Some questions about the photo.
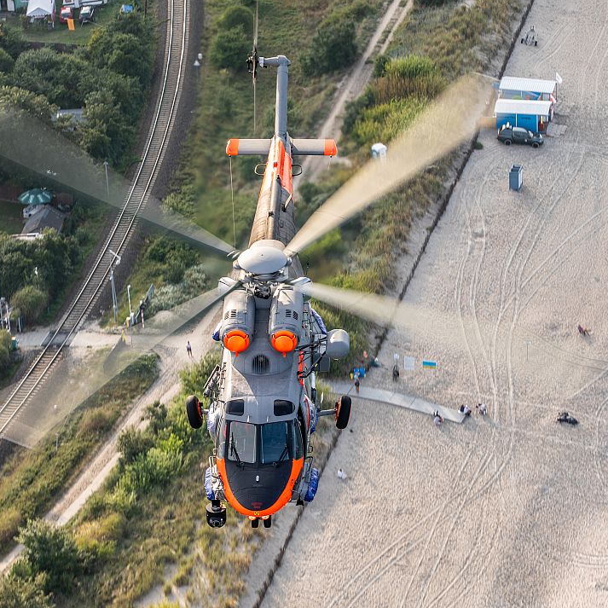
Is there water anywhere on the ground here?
No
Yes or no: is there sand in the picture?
Yes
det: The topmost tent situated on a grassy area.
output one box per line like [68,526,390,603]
[26,0,56,30]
